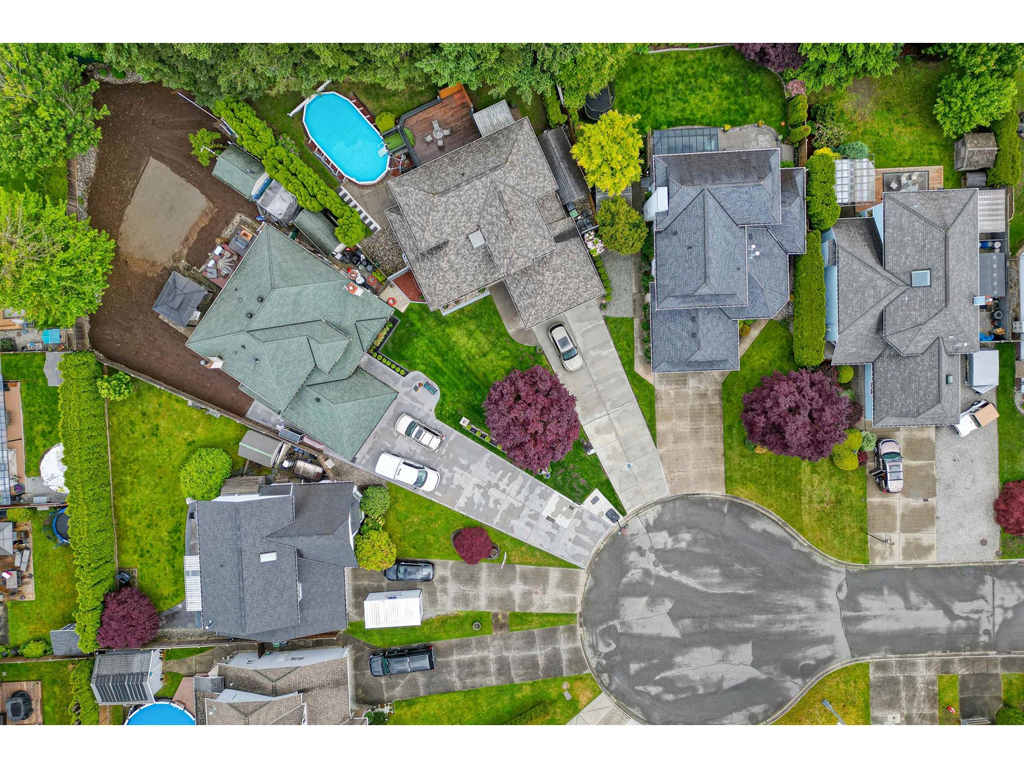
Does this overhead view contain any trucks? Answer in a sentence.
Yes, the photo shows a truck.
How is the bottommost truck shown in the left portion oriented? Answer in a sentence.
The bottommost truck shown in the left portion runs from left to right in the image.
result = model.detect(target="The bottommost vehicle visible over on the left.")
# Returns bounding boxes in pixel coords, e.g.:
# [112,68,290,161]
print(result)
[370,644,437,676]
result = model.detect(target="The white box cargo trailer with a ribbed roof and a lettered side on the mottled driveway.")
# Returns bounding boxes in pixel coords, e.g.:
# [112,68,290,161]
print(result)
[363,590,441,629]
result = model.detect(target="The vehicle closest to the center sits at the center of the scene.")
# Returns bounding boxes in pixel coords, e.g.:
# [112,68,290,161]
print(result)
[546,320,581,375]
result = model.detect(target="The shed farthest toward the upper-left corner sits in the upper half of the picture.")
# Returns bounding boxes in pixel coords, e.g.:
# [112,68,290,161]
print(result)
[210,141,271,203]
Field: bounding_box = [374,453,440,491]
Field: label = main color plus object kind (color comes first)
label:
white truck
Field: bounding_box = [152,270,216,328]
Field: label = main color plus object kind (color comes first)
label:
gray gazebo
